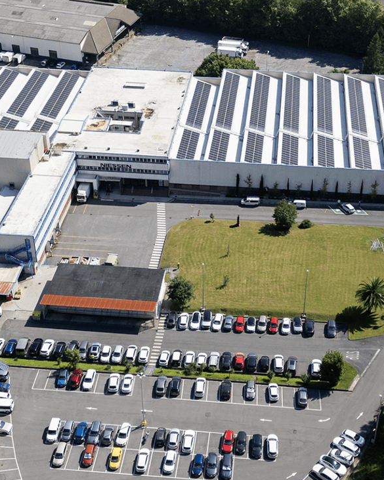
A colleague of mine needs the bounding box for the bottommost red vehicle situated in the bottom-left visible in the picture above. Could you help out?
[82,445,97,466]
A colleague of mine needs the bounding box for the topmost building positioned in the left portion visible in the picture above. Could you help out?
[0,0,143,67]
